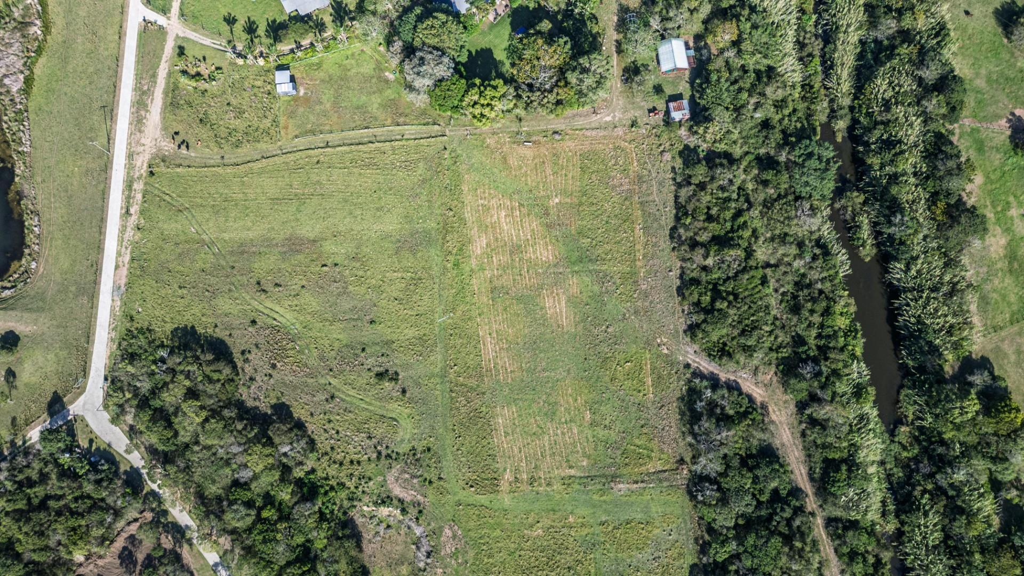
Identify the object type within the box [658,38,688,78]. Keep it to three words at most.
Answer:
building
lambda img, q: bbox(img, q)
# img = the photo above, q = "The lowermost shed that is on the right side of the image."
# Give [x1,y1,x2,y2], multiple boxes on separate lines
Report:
[668,100,690,123]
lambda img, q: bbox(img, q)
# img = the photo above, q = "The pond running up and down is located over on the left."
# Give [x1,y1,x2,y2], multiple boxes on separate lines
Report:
[0,140,24,277]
